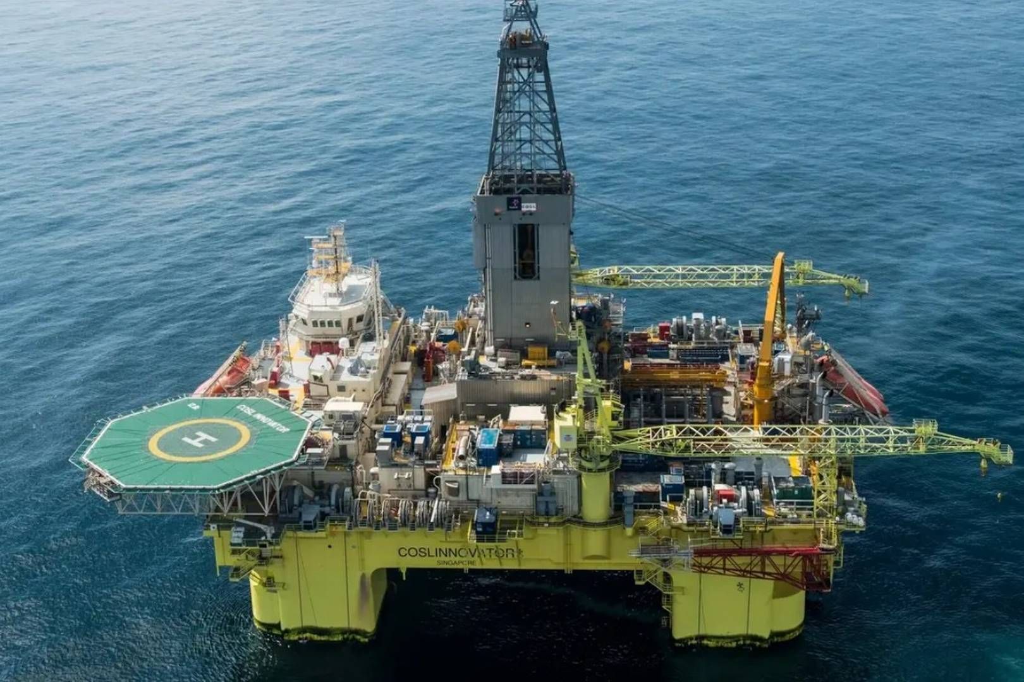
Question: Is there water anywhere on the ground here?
Yes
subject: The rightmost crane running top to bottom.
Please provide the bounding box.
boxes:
[752,247,788,440]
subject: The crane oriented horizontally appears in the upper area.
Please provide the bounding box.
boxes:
[572,234,873,306]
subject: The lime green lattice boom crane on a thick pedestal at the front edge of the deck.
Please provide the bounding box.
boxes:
[547,317,1018,532]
